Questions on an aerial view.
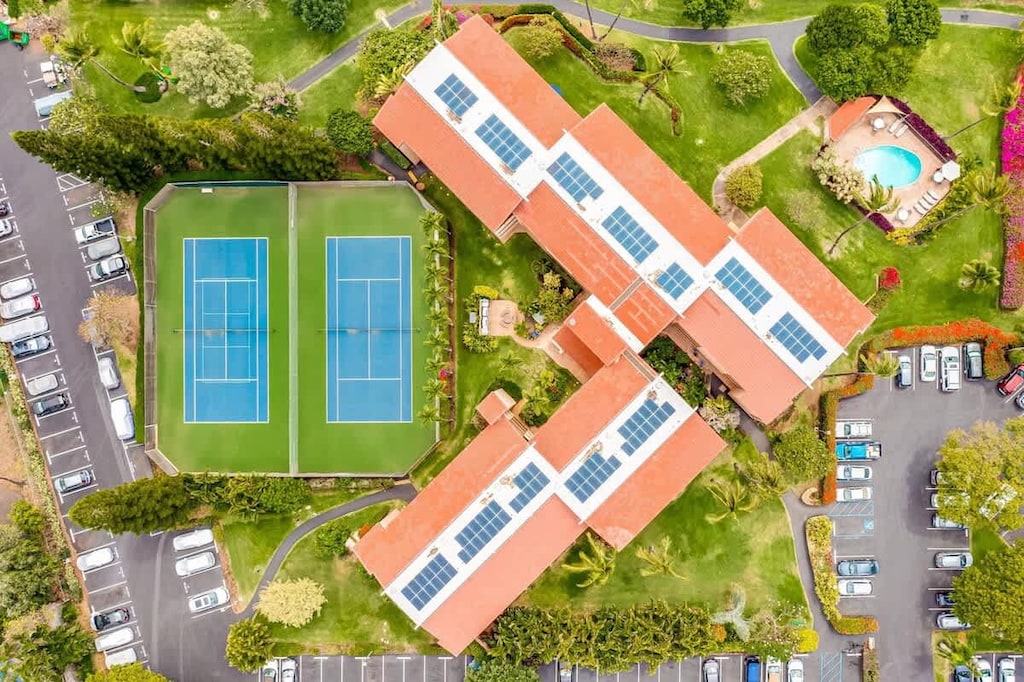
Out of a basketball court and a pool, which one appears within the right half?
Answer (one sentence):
The one visible within the right half is a pool.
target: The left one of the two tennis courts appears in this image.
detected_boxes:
[157,187,289,472]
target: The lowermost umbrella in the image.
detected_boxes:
[941,160,961,179]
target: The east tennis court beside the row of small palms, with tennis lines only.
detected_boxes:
[297,187,437,472]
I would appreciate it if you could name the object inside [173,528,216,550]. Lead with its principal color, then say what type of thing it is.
white car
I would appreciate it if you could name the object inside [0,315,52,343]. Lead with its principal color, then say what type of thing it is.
white vehicle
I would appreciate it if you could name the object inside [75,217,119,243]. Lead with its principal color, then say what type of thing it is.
white vehicle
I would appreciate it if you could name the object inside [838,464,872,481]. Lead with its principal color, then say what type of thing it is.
white car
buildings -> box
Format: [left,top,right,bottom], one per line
[374,14,875,423]
[354,344,728,657]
